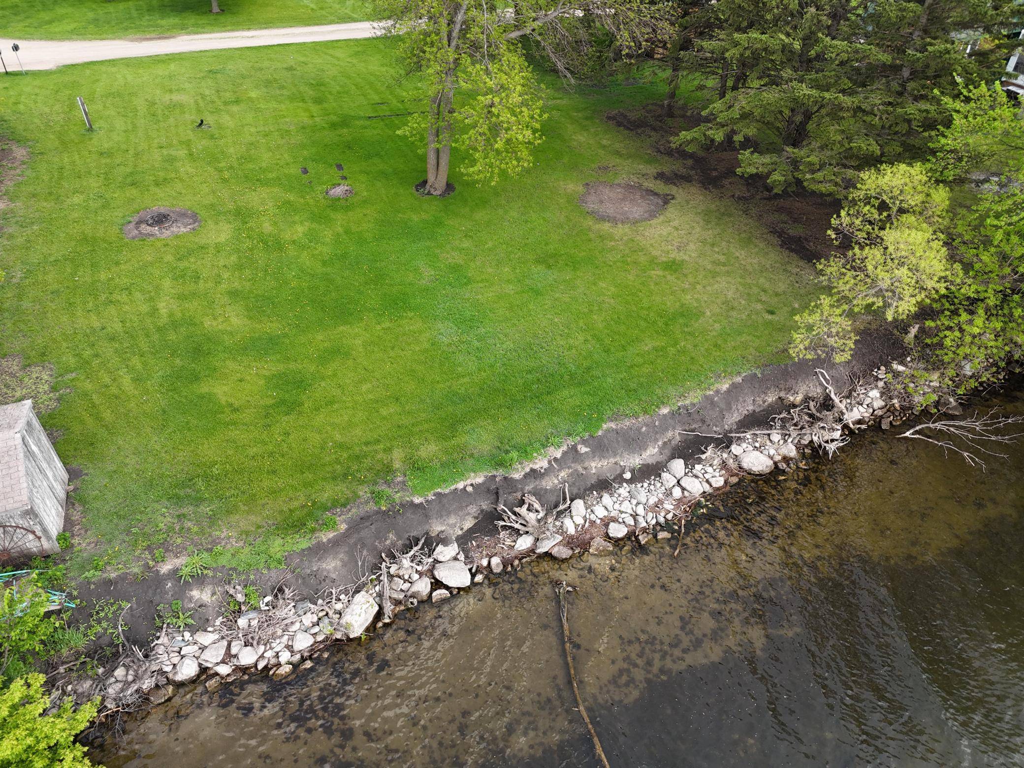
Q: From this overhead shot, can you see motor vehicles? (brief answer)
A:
No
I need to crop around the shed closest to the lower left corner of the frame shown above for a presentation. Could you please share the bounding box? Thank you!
[0,401,69,567]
